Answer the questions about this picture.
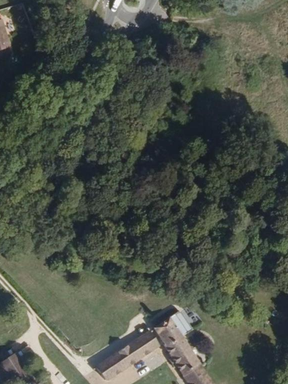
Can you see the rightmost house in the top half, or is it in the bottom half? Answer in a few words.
bottom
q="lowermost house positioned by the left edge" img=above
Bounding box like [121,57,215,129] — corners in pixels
[1,353,26,378]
